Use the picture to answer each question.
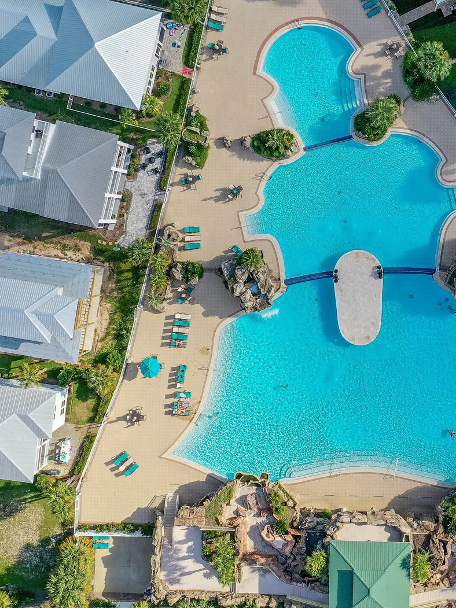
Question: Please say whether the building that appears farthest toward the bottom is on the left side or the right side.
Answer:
right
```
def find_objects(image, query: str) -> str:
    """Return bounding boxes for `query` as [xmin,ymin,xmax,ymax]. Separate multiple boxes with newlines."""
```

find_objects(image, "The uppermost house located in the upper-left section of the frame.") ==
[0,0,165,111]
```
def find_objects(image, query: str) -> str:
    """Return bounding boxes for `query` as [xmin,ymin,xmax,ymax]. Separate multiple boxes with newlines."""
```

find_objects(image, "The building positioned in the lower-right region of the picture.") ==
[328,540,411,608]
